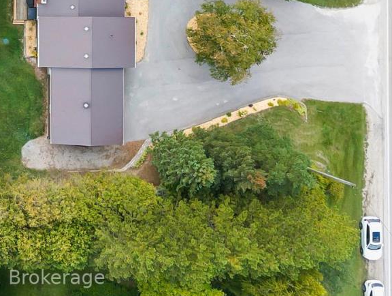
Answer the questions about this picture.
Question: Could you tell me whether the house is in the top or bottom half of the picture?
top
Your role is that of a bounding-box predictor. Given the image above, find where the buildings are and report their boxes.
[34,0,136,148]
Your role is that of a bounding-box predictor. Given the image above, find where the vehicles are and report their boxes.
[362,281,386,296]
[360,218,385,260]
